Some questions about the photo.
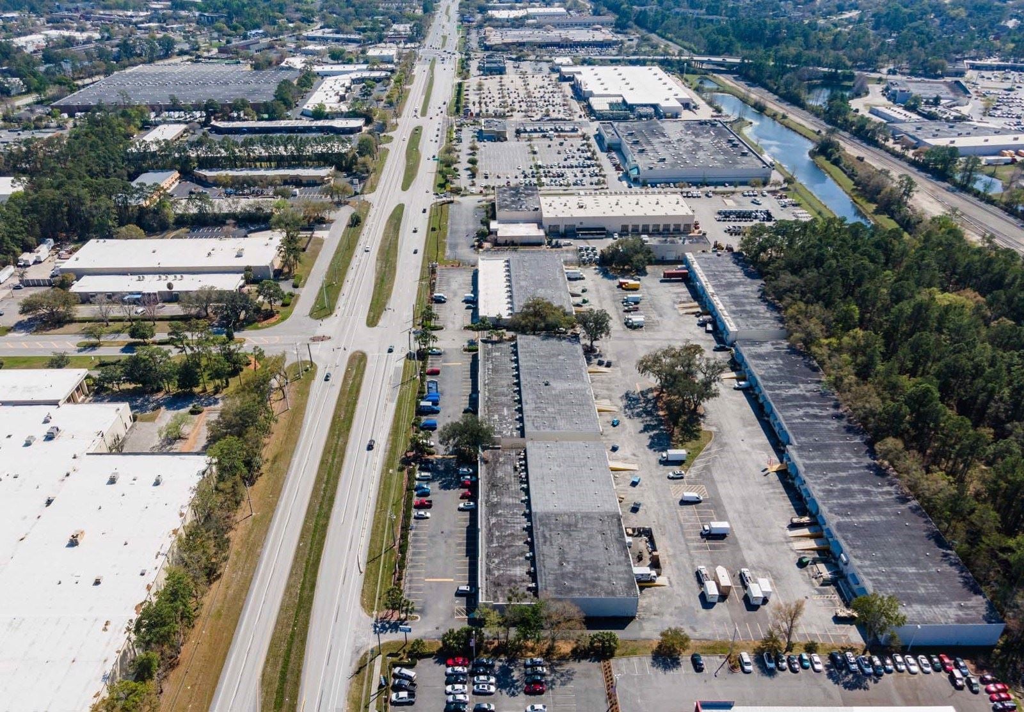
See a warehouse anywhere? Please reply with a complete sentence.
Yes, a warehouse is visible in the scene.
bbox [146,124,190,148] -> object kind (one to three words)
building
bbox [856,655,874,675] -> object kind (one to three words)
car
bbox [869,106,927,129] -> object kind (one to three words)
shed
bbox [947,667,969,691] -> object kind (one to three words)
vehicle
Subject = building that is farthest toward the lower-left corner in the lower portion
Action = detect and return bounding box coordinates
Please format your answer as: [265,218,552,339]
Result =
[0,368,215,712]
